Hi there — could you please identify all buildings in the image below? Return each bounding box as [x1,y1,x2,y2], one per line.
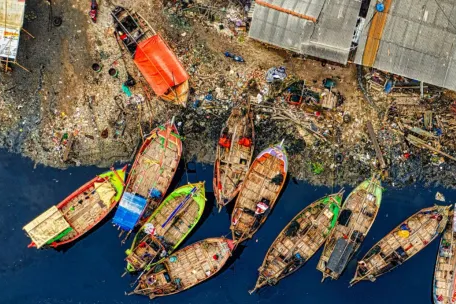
[354,0,456,97]
[248,0,363,66]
